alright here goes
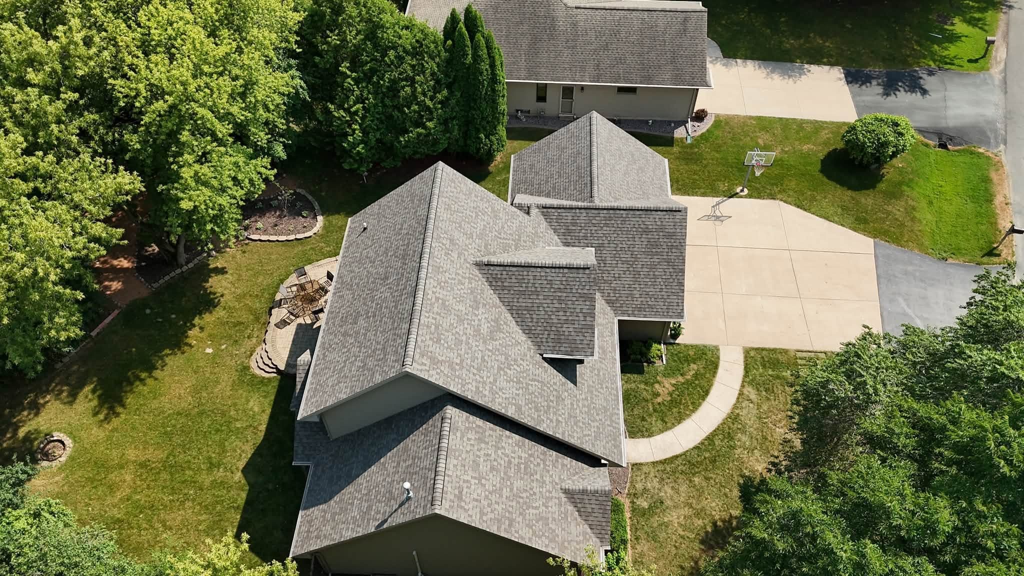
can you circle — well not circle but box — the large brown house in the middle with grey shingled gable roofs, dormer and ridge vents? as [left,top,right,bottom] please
[288,110,689,576]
